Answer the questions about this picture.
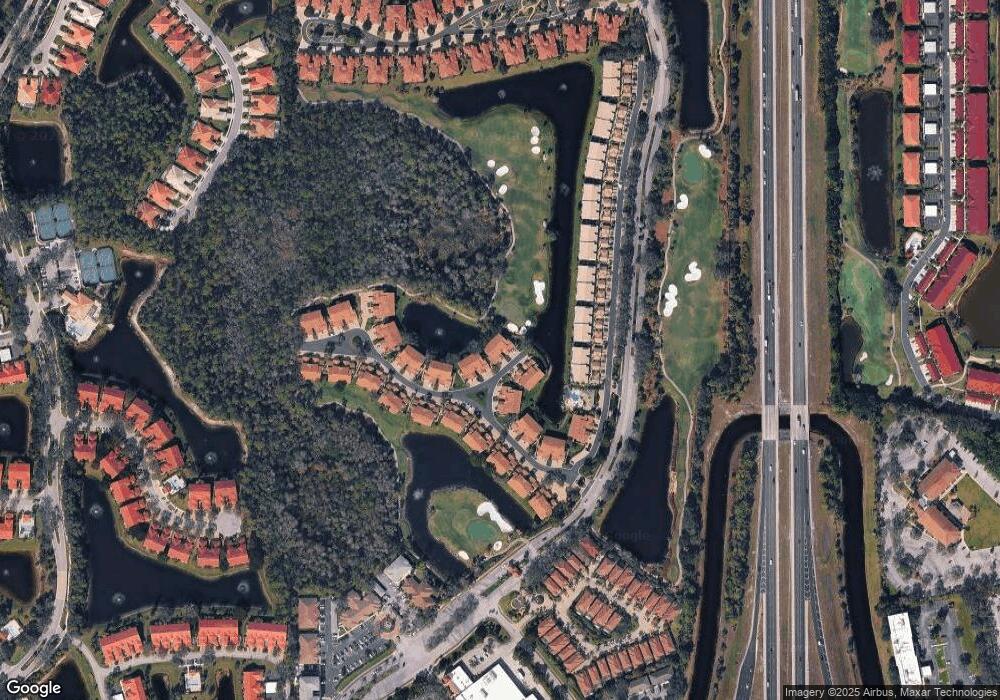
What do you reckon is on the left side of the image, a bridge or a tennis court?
tennis court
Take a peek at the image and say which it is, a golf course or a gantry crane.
golf course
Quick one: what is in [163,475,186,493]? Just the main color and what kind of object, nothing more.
white swimming pool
